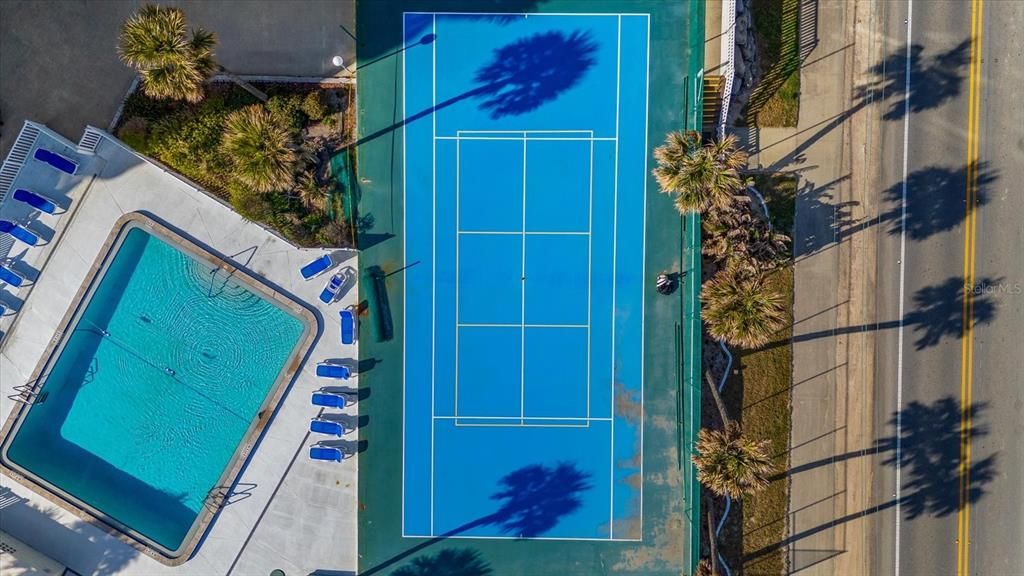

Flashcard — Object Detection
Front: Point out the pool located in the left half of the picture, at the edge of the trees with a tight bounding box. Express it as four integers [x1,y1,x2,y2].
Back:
[0,213,318,566]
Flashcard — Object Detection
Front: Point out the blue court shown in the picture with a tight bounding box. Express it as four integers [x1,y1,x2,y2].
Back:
[357,0,704,576]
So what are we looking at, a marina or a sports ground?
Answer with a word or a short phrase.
sports ground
